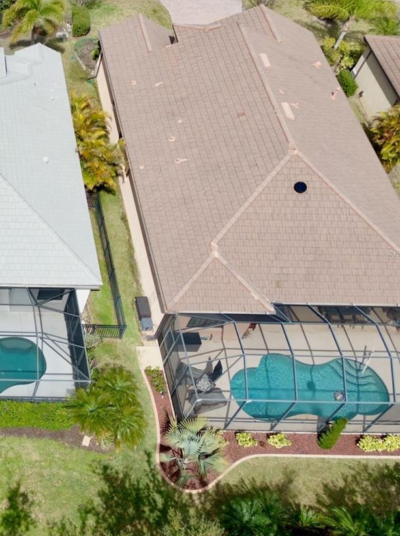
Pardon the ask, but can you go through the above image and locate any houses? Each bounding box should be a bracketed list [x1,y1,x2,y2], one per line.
[353,33,400,135]
[0,42,103,311]
[86,1,400,335]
